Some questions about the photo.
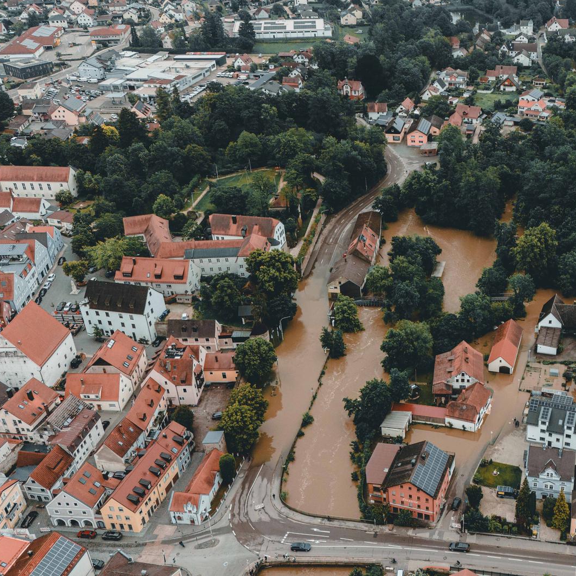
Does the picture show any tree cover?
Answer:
Yes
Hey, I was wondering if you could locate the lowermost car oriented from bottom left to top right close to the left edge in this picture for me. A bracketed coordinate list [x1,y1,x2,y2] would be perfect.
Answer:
[19,510,40,527]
